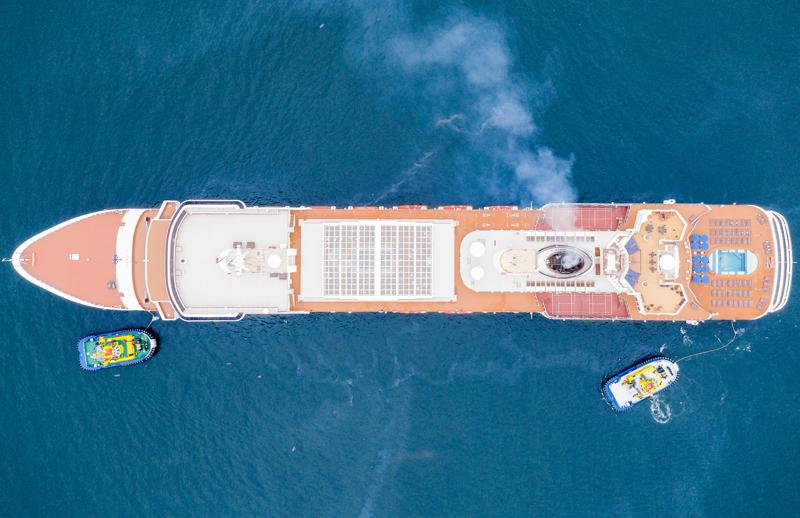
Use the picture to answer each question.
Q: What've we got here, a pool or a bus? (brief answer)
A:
pool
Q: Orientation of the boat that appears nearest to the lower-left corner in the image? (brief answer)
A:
horizontally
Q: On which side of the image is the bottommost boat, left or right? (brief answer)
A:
right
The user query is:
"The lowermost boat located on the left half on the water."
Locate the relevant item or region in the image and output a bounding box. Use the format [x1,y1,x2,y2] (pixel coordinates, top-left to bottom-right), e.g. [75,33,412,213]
[76,330,159,373]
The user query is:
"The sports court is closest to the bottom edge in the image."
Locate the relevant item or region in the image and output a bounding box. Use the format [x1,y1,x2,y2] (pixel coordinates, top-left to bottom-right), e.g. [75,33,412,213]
[538,294,634,320]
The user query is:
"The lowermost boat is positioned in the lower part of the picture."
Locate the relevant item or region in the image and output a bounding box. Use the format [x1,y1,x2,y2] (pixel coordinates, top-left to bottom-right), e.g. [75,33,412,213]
[599,359,683,415]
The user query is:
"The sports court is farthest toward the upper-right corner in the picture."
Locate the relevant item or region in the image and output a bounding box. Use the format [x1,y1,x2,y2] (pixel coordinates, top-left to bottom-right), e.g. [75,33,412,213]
[538,204,636,230]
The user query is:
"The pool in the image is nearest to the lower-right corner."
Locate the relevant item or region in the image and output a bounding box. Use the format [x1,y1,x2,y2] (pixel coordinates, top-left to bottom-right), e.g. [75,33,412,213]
[706,248,760,277]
